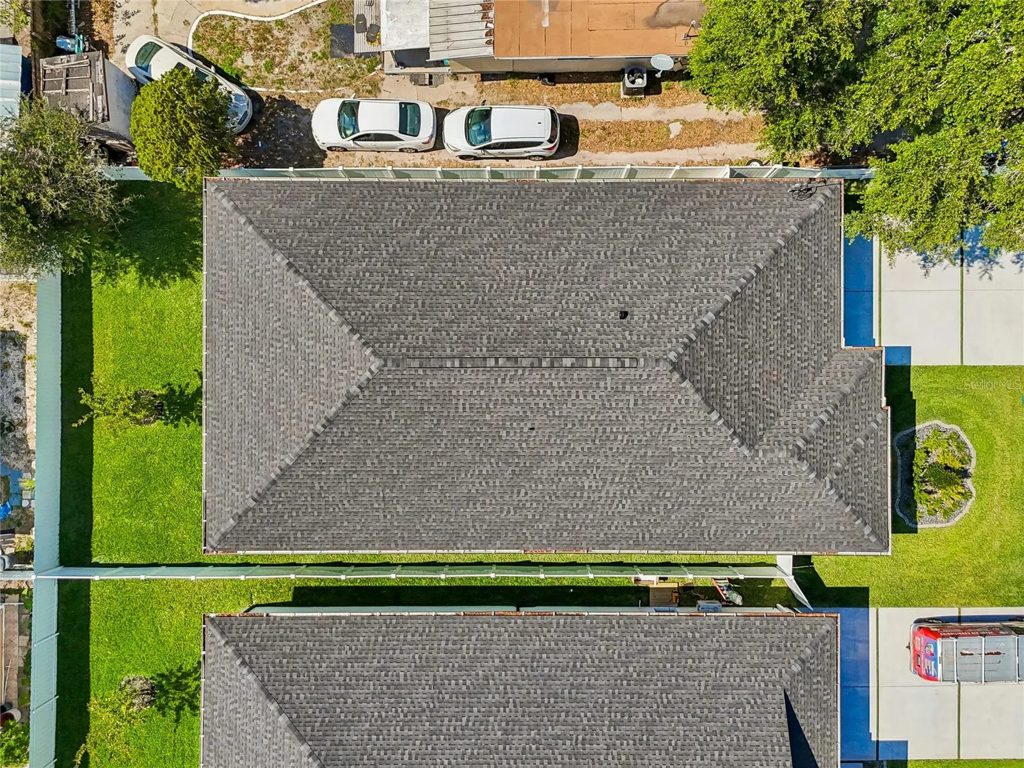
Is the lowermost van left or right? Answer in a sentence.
The lowermost van sits on the right side.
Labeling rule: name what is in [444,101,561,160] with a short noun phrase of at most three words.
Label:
car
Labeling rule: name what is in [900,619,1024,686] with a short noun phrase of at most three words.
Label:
van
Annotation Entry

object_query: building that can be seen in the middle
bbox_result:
[202,178,891,555]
